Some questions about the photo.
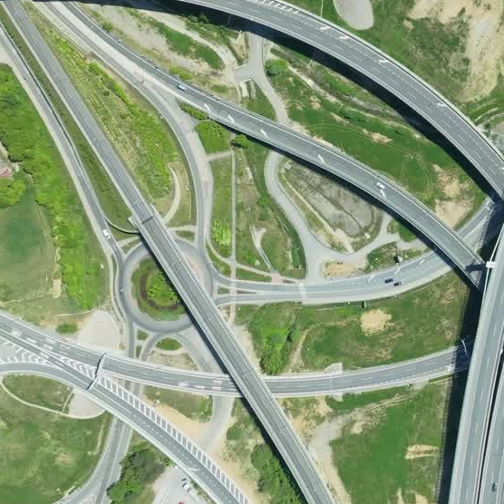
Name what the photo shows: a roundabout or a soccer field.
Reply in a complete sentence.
Of the two, only a roundabout appears.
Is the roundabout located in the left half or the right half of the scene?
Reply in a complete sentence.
The roundabout sits on the left side.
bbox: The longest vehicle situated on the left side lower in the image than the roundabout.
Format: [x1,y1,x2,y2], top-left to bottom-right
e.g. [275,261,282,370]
[181,481,195,496]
